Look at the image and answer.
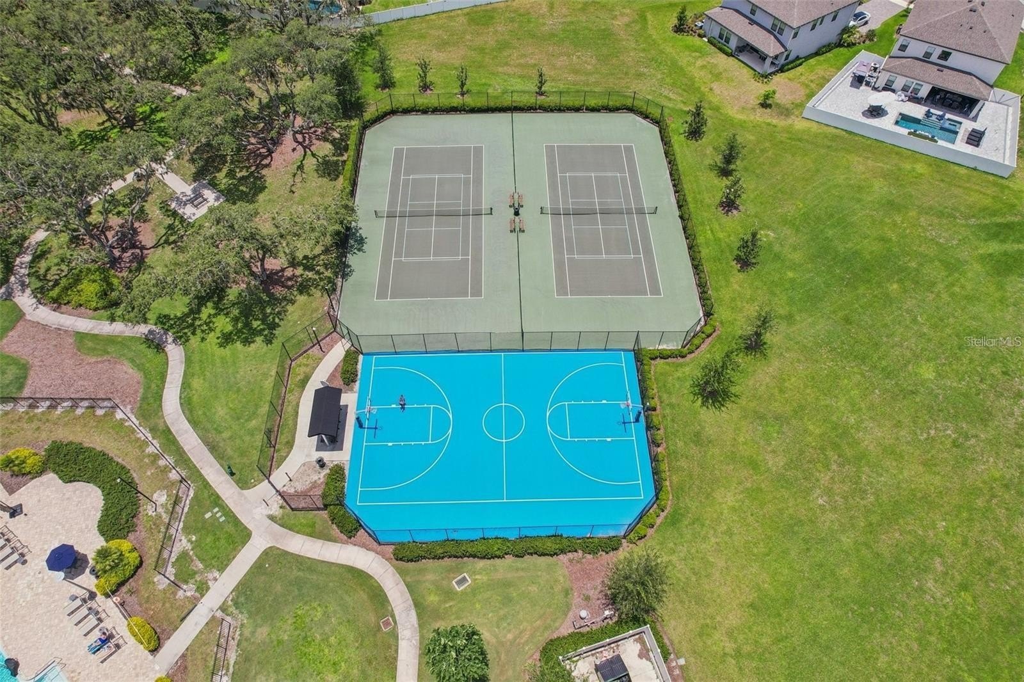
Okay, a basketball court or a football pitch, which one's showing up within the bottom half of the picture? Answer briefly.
basketball court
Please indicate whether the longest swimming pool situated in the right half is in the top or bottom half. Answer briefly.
top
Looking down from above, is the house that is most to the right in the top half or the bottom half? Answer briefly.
top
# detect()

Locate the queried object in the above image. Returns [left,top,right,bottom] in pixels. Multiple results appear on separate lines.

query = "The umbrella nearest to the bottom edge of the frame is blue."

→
[46,542,82,575]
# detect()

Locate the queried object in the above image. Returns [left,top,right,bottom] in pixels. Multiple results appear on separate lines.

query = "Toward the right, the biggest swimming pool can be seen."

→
[895,114,960,143]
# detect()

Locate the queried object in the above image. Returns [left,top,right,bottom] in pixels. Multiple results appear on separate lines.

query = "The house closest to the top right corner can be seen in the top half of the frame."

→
[876,0,1024,117]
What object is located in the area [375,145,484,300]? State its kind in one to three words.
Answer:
tennis court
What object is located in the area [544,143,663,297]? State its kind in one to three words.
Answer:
tennis court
